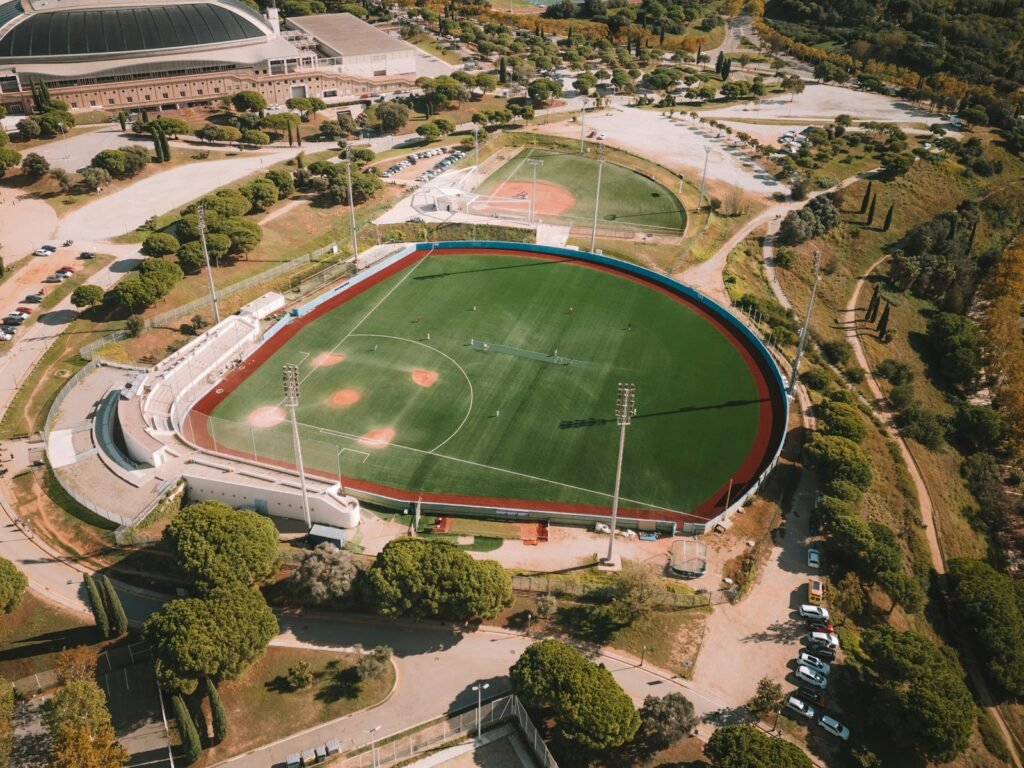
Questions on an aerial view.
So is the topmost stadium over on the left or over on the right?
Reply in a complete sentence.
It is on the left.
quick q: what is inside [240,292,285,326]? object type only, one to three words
building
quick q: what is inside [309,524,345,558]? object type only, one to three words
shed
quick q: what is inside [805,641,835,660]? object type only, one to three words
car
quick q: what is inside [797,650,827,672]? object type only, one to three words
car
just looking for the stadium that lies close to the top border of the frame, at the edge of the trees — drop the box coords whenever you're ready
[0,0,414,128]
